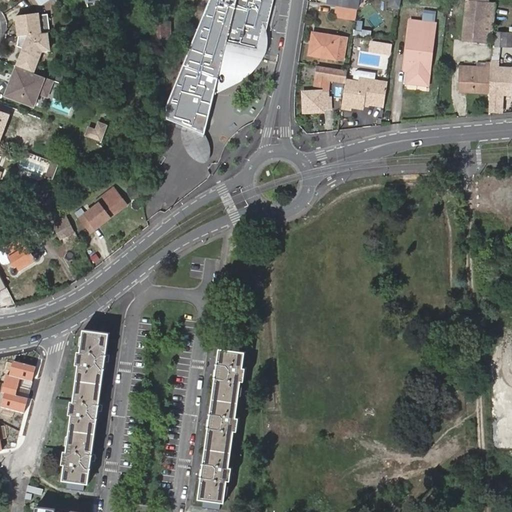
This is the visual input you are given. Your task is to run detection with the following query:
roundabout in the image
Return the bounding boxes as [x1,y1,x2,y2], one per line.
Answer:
[240,152,314,221]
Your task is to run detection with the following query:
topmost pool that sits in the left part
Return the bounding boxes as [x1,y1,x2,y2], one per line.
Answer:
[50,99,72,116]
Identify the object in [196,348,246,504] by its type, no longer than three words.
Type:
building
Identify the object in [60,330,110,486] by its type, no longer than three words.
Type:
building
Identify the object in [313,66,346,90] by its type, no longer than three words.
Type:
house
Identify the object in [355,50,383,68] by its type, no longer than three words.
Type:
swimming pool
